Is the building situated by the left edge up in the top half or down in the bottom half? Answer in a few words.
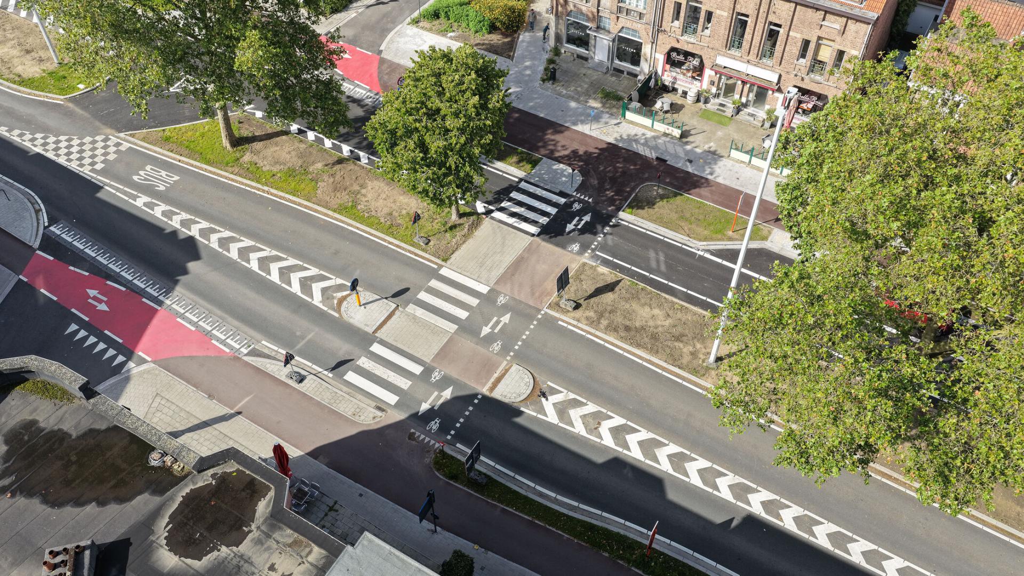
bottom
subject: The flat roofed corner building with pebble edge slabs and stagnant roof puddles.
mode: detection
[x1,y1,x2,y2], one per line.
[0,355,343,576]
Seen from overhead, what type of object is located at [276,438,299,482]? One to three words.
umbrella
